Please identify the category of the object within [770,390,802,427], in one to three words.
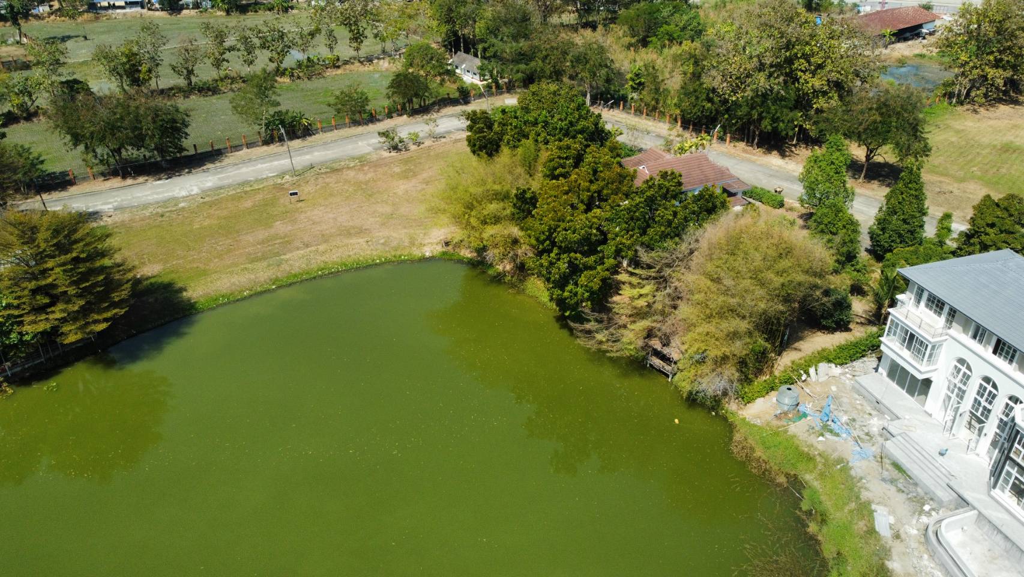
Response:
water tank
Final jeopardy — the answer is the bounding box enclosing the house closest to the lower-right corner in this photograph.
[876,248,1024,516]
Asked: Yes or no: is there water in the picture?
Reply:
Yes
